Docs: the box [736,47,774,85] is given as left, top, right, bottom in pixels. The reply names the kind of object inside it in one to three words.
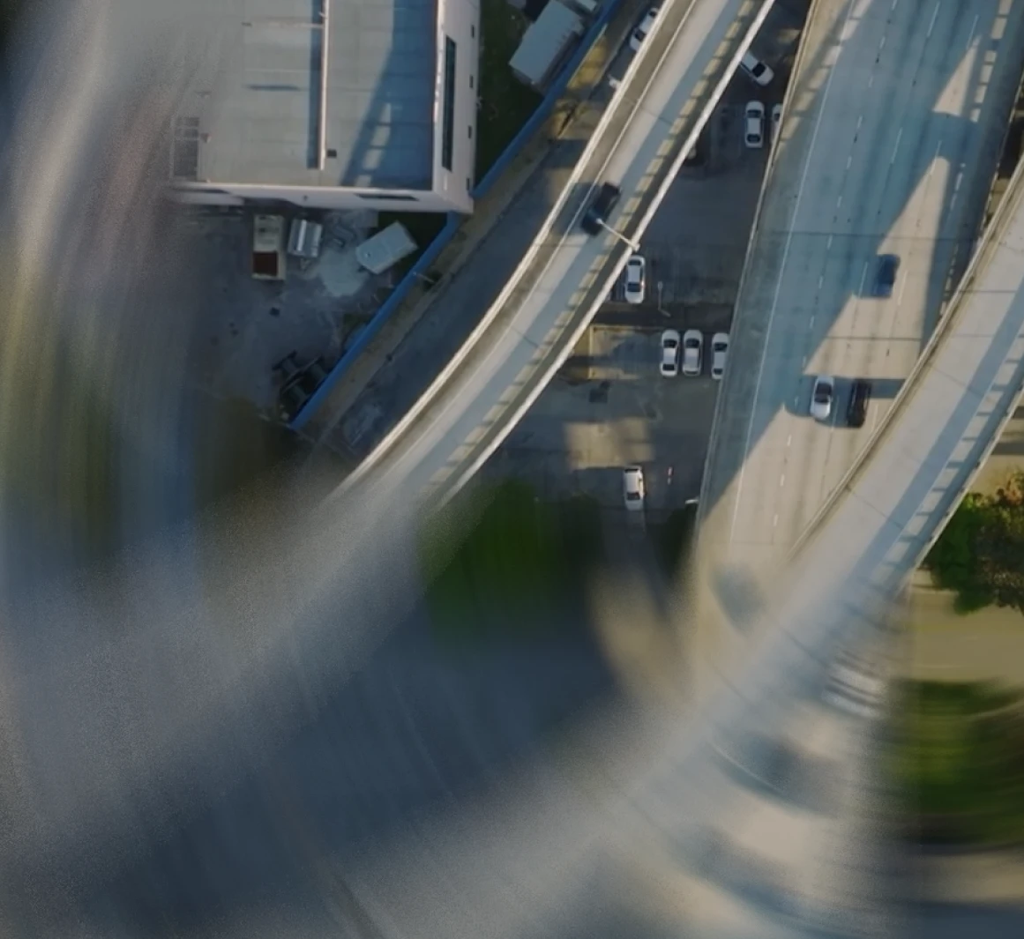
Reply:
car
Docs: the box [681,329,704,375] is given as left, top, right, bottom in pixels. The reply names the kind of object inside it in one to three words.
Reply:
car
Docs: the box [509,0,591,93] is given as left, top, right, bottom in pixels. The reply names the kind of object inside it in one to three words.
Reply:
shed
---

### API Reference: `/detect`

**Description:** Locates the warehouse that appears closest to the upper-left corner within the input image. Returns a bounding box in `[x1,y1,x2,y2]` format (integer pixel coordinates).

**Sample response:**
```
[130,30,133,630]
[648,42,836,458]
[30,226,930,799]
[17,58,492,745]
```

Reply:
[109,0,477,212]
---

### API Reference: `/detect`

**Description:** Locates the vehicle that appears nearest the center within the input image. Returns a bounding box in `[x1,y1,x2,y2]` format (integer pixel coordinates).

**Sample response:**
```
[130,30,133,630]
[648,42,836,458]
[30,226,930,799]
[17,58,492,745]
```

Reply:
[623,465,644,510]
